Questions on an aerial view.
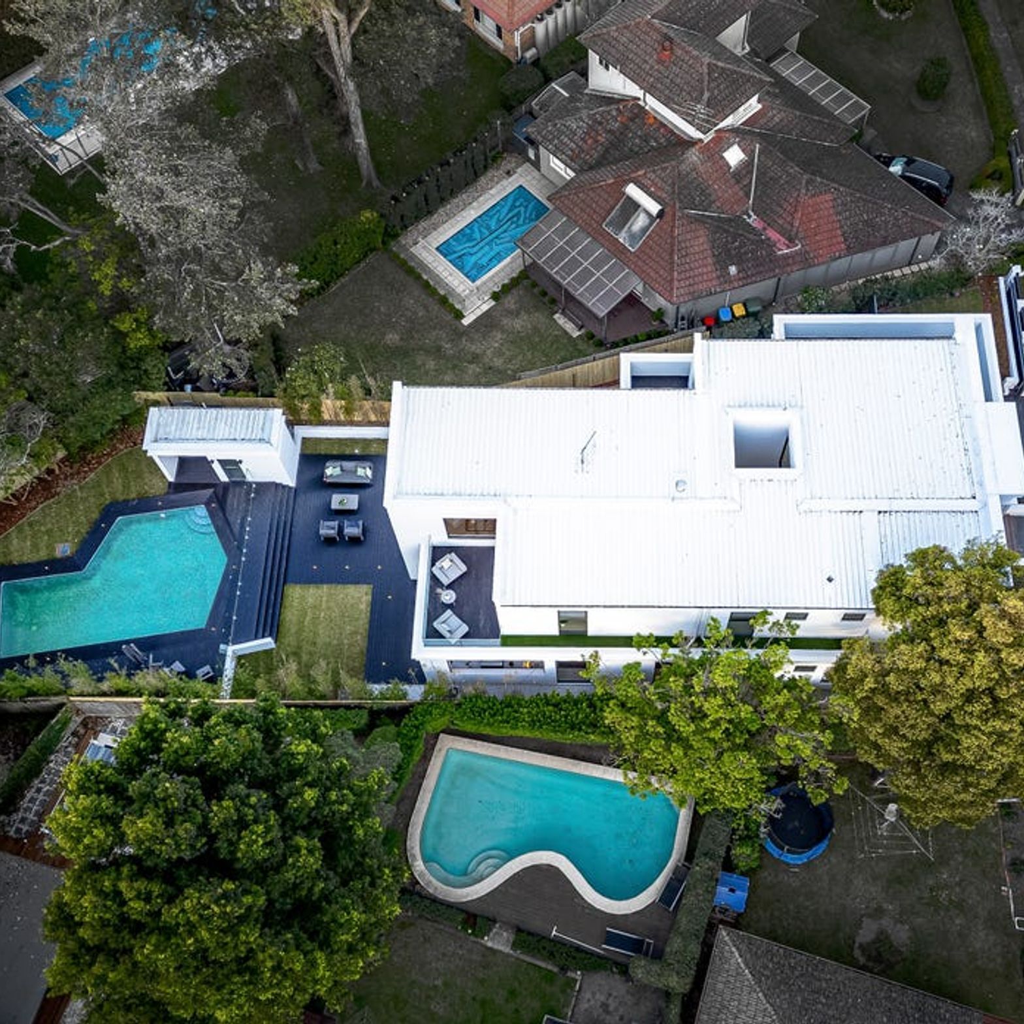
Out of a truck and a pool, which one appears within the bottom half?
pool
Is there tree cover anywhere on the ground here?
Yes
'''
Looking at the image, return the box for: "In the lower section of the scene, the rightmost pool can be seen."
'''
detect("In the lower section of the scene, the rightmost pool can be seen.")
[407,738,694,914]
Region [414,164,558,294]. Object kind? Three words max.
swimming pool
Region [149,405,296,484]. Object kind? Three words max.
building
